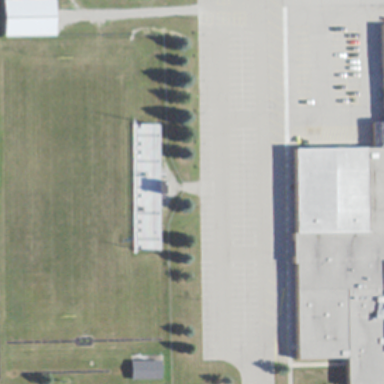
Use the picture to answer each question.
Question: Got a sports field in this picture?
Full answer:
Yes, looking at the shot, I can spot a sports field.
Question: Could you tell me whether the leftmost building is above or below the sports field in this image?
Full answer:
As seen from overhead, the leftmost building falls above the sports field in the picture.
